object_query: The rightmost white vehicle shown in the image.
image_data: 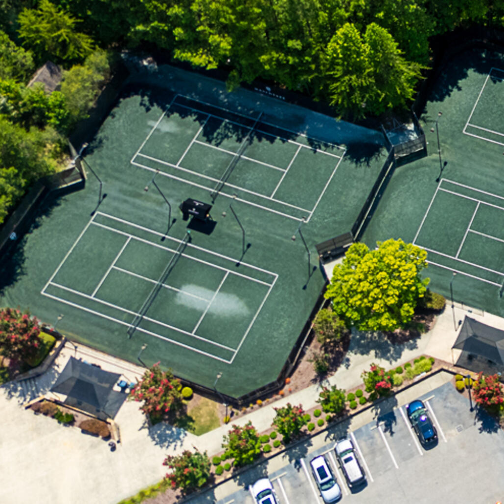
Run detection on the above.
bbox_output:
[338,438,368,487]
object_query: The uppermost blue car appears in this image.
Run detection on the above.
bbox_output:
[410,401,438,448]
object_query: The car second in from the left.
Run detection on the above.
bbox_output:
[311,457,342,504]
